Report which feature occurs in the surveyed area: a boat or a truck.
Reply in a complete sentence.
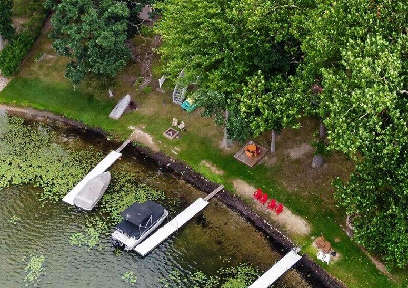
Visible in the photo is a boat.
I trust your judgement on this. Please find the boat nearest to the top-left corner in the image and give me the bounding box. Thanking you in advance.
[111,92,132,118]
